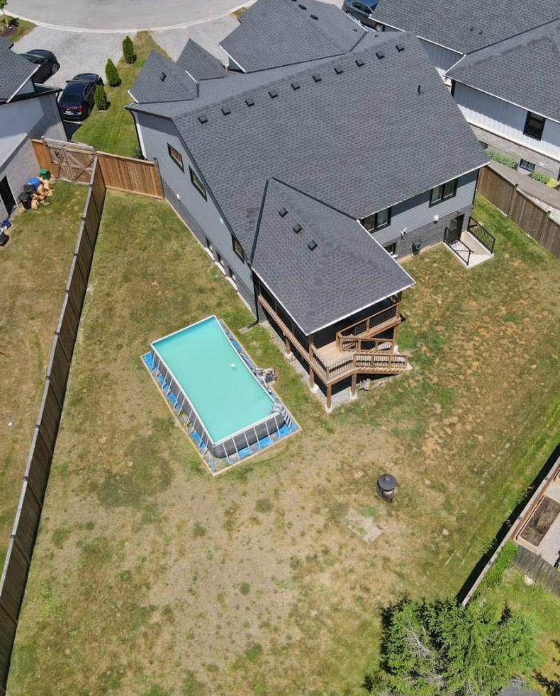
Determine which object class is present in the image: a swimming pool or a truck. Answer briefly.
swimming pool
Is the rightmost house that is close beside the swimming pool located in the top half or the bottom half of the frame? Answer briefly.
top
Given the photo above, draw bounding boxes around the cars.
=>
[52,66,101,115]
[27,51,58,84]
[342,0,381,29]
